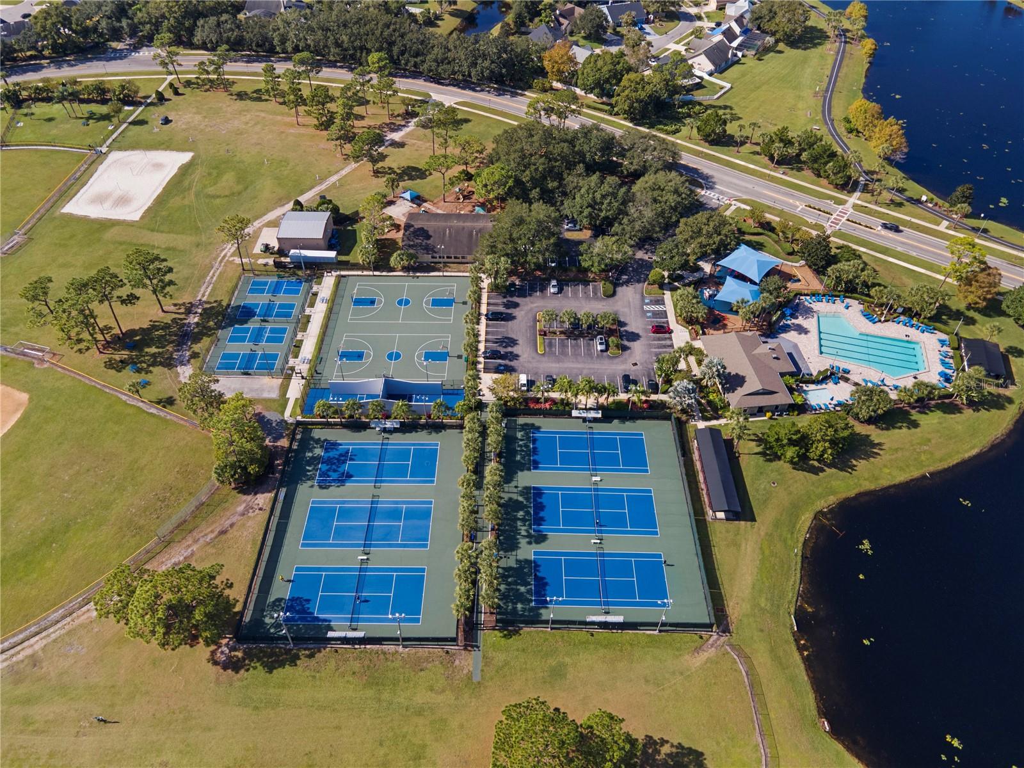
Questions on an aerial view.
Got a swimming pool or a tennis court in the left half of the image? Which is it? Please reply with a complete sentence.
Looking in the left half of the image, you will find a tennis court.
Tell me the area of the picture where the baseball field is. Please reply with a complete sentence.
The baseball field sits in the left section of the image.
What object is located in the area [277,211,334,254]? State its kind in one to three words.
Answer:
shed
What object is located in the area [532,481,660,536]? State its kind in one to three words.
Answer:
tennis court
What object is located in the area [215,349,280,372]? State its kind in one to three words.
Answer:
sports court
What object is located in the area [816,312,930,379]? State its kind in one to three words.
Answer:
swimming pool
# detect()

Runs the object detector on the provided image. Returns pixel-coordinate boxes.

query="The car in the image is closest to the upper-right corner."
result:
[881,218,900,230]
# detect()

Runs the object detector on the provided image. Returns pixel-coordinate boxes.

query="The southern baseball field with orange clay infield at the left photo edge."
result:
[0,384,29,436]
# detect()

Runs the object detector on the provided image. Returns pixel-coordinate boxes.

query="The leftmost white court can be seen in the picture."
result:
[61,151,194,221]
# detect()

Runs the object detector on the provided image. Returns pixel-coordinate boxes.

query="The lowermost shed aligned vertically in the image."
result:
[692,427,740,519]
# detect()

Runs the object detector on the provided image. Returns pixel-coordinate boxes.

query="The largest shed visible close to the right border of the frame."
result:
[960,336,1005,384]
